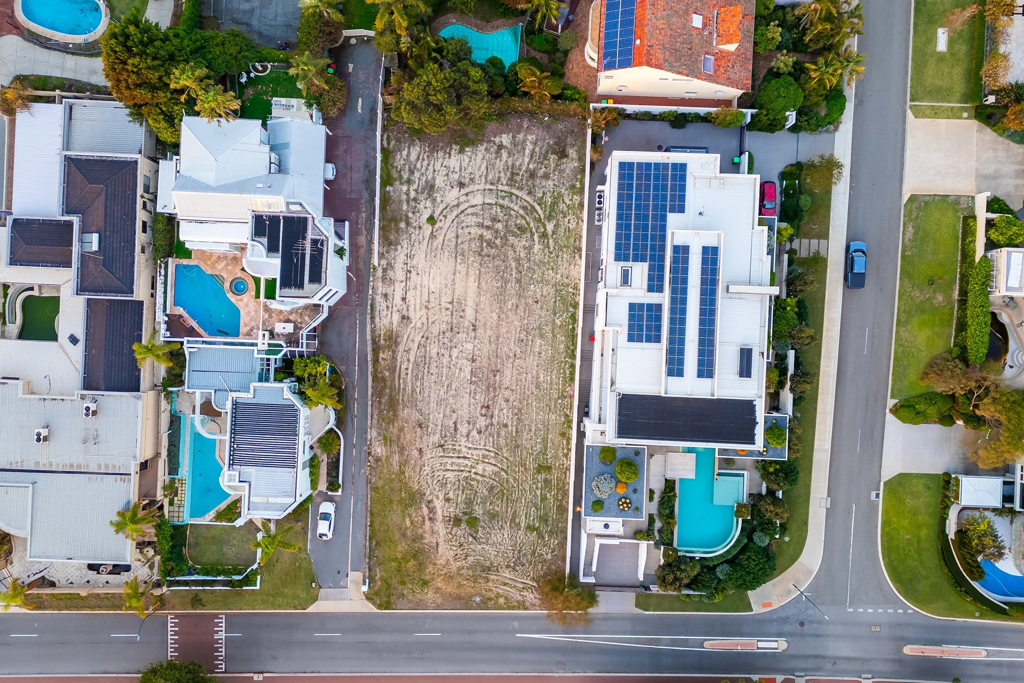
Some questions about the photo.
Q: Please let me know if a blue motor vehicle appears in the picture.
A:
Yes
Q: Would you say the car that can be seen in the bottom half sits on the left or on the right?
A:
left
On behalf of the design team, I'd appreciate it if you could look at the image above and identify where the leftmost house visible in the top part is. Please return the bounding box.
[0,99,163,396]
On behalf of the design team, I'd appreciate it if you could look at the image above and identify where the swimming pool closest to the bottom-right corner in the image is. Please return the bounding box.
[971,555,1024,601]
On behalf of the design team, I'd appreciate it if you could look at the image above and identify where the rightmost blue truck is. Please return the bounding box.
[843,242,867,288]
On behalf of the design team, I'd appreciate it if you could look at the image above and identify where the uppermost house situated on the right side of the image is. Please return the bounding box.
[580,0,755,99]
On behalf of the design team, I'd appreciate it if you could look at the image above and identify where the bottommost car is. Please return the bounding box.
[316,501,337,539]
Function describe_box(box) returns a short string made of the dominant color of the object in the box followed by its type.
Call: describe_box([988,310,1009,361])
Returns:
black swimming pool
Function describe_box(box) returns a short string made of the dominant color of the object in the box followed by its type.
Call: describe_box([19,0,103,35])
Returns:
blue swimming pool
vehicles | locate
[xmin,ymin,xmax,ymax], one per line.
[757,182,777,217]
[316,501,337,539]
[843,242,867,288]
